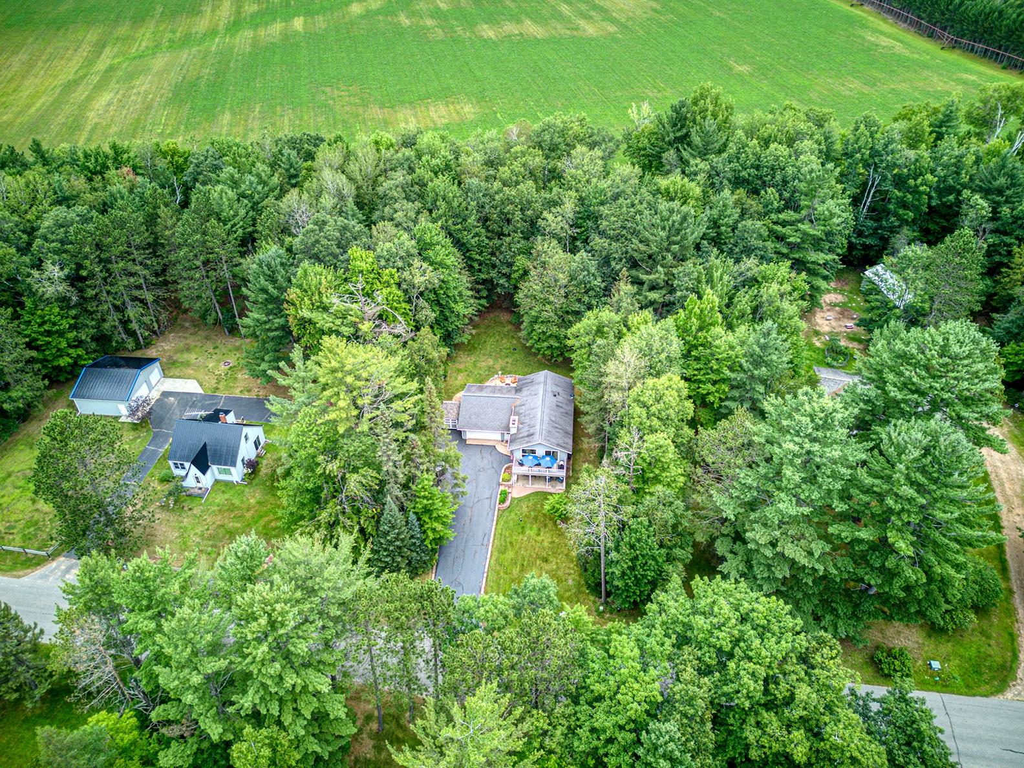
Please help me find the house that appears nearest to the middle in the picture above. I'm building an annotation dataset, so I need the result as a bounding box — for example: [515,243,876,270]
[433,371,576,489]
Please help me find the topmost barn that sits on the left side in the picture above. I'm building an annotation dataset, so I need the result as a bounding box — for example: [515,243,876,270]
[69,356,159,416]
